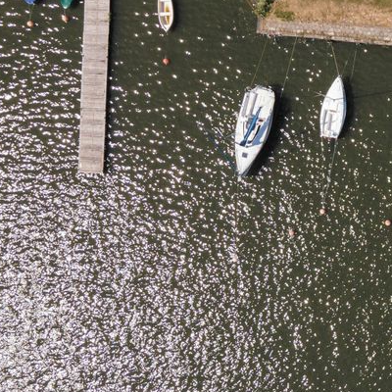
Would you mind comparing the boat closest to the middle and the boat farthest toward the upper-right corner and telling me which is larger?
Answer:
the boat closest to the middle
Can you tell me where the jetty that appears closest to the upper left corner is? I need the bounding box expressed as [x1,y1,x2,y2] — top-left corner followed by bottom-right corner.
[78,0,111,175]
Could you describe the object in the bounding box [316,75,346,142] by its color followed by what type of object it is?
white boat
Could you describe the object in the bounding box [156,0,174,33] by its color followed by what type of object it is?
white boat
